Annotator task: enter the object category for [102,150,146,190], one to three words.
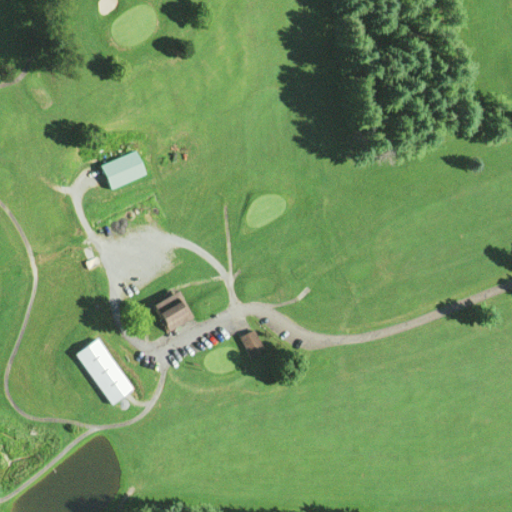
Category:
barn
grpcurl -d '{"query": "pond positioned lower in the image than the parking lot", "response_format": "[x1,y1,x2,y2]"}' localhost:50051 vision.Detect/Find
[13,437,121,512]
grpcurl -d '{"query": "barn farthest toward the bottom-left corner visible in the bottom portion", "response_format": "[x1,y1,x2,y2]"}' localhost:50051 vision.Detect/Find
[77,338,135,405]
